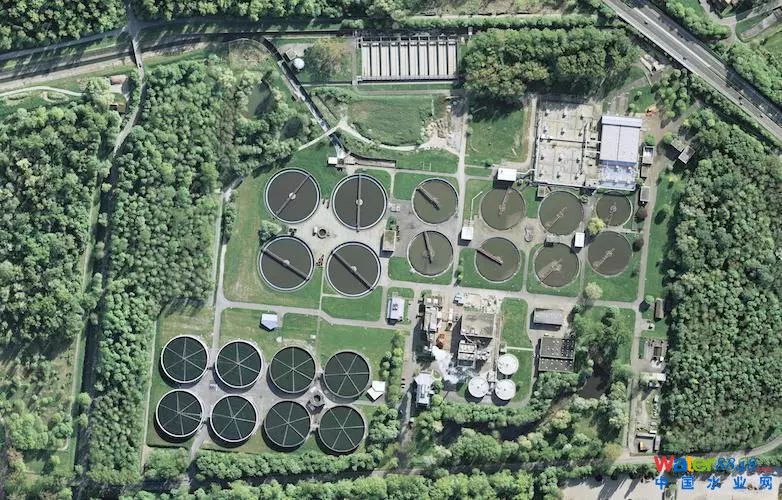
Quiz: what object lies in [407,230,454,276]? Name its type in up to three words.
storage tank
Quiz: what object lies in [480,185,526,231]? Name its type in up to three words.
storage tank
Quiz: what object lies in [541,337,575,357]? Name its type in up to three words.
building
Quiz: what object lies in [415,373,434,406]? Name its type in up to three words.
house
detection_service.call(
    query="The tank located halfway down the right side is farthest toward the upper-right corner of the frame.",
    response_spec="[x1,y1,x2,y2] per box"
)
[595,190,633,227]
